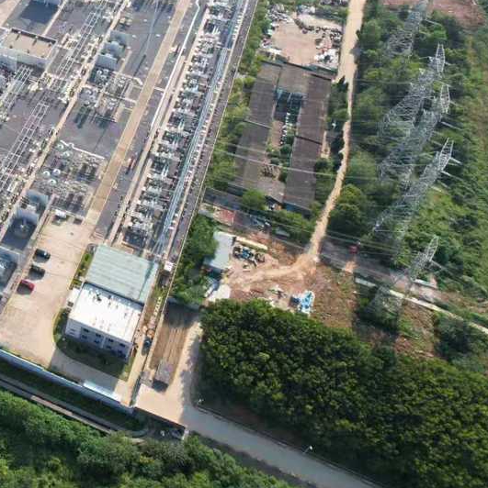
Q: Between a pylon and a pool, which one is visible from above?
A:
pylon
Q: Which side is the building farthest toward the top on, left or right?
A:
left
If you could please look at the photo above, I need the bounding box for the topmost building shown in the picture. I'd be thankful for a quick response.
[0,16,62,64]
